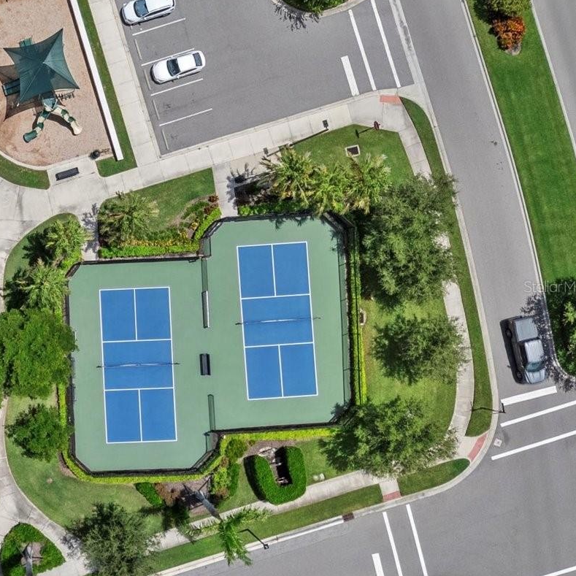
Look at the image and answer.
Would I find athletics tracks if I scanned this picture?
No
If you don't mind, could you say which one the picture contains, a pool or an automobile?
automobile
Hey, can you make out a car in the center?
No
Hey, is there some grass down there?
Yes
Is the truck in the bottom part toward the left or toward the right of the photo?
right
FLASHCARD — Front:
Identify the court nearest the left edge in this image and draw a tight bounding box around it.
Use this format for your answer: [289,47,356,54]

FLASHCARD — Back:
[70,259,219,472]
